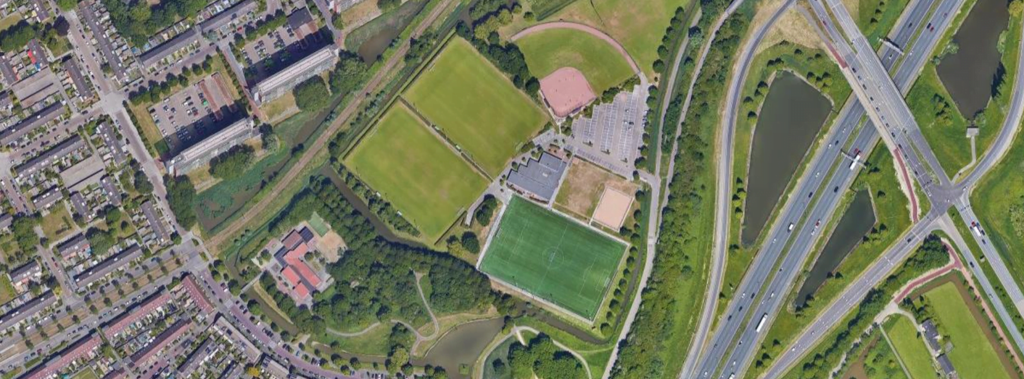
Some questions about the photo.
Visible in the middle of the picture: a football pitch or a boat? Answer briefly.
football pitch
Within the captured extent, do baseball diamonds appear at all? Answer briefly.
Yes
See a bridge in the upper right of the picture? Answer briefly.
Yes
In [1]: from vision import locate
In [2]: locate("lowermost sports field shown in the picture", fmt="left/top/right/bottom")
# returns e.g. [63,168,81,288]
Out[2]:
[477,191,634,325]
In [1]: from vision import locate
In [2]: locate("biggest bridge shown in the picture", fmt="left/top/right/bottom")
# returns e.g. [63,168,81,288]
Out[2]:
[841,39,917,151]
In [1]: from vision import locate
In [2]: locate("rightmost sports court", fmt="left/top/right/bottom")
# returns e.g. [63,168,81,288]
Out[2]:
[591,187,633,232]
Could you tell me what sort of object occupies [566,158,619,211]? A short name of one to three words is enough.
sports field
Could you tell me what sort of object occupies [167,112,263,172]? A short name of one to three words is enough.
building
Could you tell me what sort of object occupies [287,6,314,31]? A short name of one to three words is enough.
building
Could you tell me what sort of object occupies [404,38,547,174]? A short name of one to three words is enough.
soccer field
